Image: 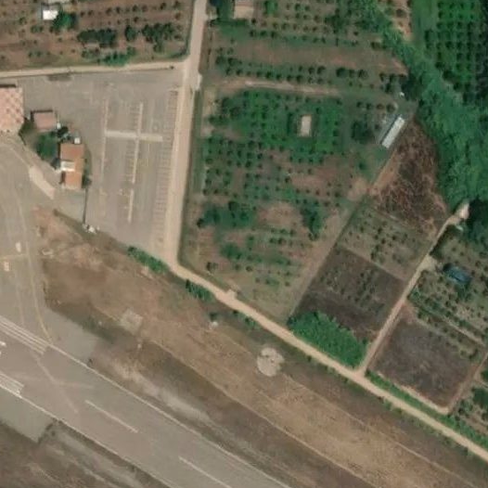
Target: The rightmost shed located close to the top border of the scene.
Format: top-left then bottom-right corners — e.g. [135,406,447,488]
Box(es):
[235,0,253,18]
